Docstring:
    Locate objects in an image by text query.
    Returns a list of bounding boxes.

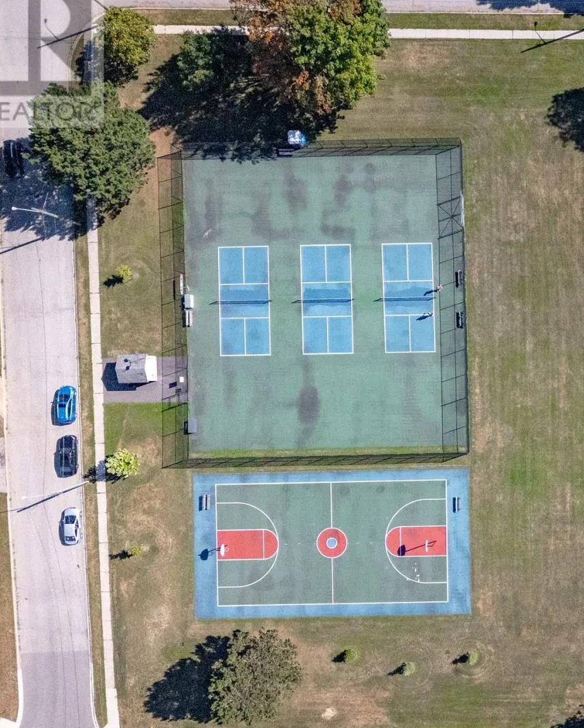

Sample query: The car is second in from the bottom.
[56,437,79,476]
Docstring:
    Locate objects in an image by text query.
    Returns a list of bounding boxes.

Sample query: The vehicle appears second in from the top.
[55,386,77,425]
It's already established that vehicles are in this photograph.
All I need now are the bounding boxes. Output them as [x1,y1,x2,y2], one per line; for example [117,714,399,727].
[56,437,79,476]
[0,136,22,177]
[61,507,82,546]
[55,386,77,425]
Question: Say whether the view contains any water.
No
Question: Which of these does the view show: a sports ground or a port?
sports ground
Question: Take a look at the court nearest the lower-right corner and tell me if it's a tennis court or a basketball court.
basketball court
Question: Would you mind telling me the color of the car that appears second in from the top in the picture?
blue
